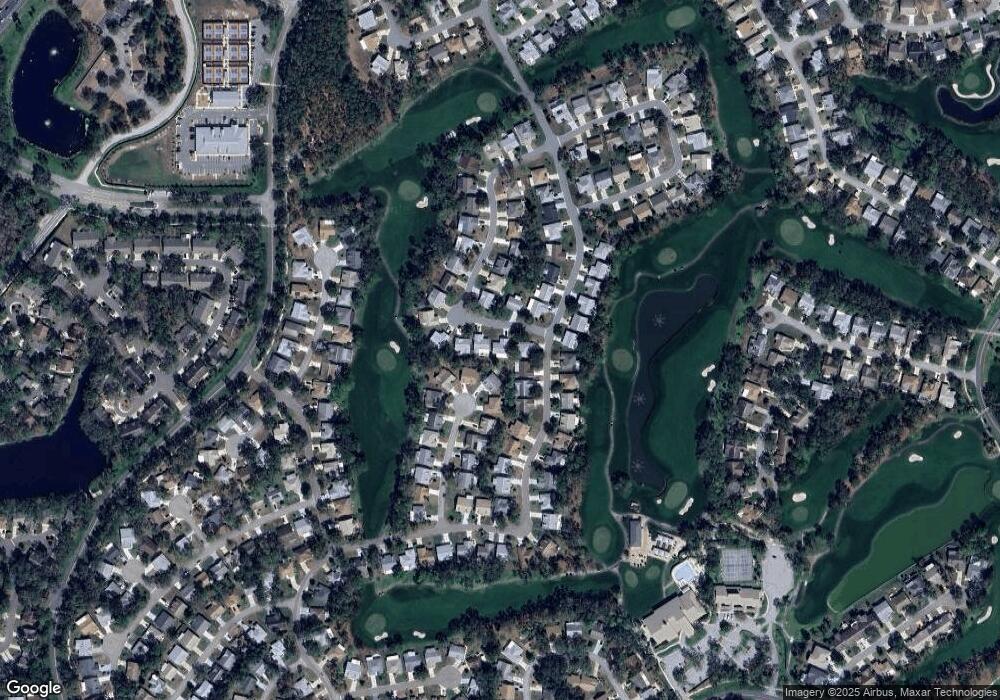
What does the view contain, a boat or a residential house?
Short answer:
residential house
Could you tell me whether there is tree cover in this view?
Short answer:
Yes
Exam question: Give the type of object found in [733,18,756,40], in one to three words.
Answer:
house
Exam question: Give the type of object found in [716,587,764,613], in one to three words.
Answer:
building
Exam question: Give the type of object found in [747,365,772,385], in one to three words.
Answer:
house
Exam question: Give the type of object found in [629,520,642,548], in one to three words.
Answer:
barn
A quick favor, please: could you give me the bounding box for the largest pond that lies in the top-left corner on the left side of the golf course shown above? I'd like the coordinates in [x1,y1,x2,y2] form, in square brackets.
[12,11,87,158]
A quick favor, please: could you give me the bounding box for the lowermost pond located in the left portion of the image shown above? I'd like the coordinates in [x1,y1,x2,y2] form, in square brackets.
[0,359,107,499]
